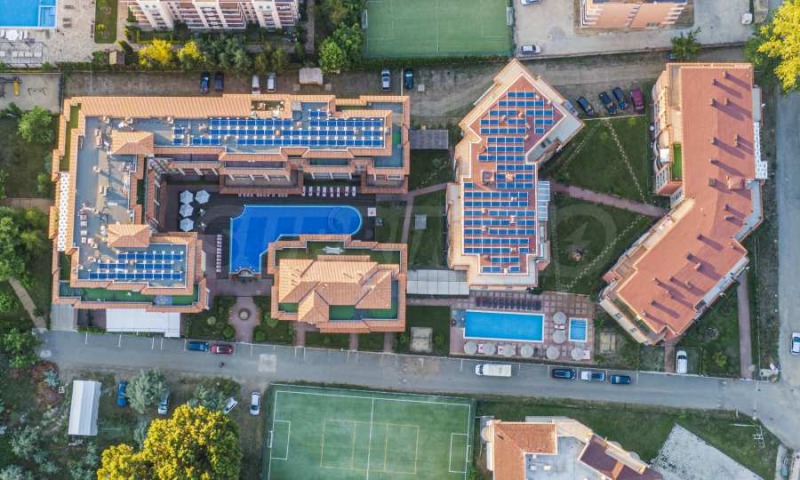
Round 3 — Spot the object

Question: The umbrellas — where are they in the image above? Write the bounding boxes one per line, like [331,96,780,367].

[180,218,195,231]
[552,312,566,325]
[179,204,194,217]
[463,342,477,355]
[520,345,534,358]
[502,344,515,357]
[180,191,195,205]
[483,342,496,356]
[5,27,20,42]
[552,330,566,344]
[570,347,584,360]
[196,190,209,204]
[545,346,559,360]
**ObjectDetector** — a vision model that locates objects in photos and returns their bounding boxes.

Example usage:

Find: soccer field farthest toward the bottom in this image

[265,385,475,480]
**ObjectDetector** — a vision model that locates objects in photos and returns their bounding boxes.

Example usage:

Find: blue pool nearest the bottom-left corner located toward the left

[229,204,364,278]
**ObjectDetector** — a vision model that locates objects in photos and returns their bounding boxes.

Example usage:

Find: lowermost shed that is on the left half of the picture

[67,381,103,435]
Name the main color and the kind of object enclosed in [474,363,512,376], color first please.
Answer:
white vehicle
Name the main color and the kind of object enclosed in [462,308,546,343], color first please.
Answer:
blue swimming pool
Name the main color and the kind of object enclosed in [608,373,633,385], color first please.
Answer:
blue vehicle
